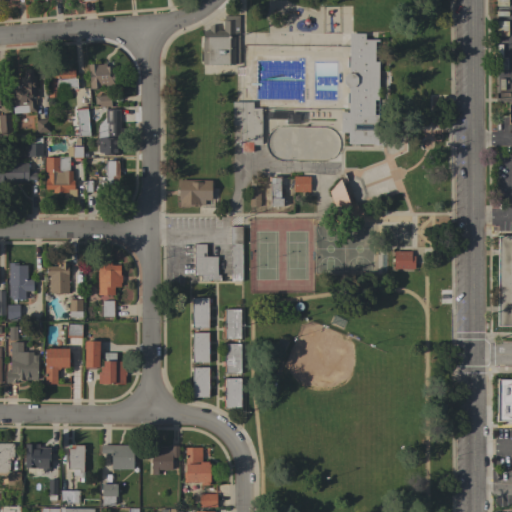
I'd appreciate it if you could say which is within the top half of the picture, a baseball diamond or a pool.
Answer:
pool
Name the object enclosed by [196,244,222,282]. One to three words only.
building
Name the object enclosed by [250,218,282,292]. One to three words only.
tennis court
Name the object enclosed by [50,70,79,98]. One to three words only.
house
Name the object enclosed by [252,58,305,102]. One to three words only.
swimming pool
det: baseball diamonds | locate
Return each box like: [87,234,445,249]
[268,316,424,466]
